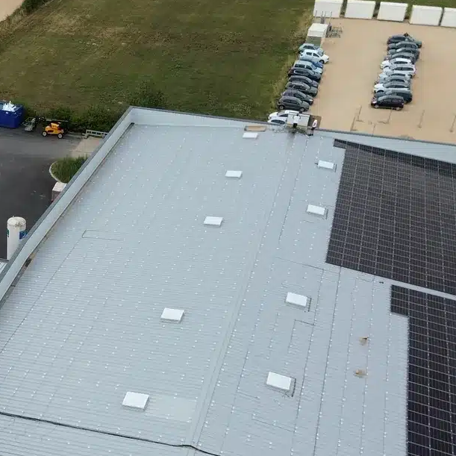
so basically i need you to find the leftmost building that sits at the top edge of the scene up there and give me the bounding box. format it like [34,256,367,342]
[315,0,345,17]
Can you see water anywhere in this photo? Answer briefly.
No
